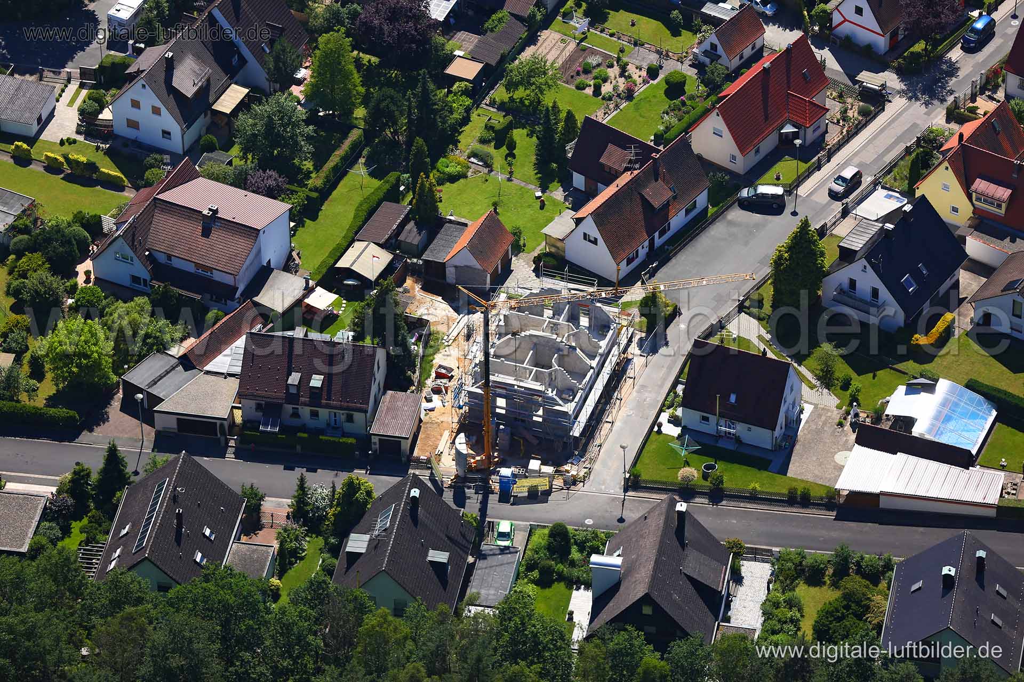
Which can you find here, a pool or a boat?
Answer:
pool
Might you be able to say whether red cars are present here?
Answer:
No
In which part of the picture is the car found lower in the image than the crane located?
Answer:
bottom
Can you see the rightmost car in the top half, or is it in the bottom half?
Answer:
top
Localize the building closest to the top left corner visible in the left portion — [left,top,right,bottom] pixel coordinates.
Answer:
[0,74,55,139]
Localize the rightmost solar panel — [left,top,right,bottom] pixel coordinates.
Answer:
[370,502,393,539]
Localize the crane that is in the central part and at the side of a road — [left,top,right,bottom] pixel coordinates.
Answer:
[449,255,756,481]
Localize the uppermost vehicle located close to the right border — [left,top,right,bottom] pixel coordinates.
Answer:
[959,16,998,54]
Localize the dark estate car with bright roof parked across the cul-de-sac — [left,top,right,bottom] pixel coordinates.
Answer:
[737,187,786,210]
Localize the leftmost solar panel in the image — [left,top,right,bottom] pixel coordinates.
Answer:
[131,476,168,553]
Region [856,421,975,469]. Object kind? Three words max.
shed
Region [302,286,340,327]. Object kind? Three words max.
gazebo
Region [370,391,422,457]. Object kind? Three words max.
building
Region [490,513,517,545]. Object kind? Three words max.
car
